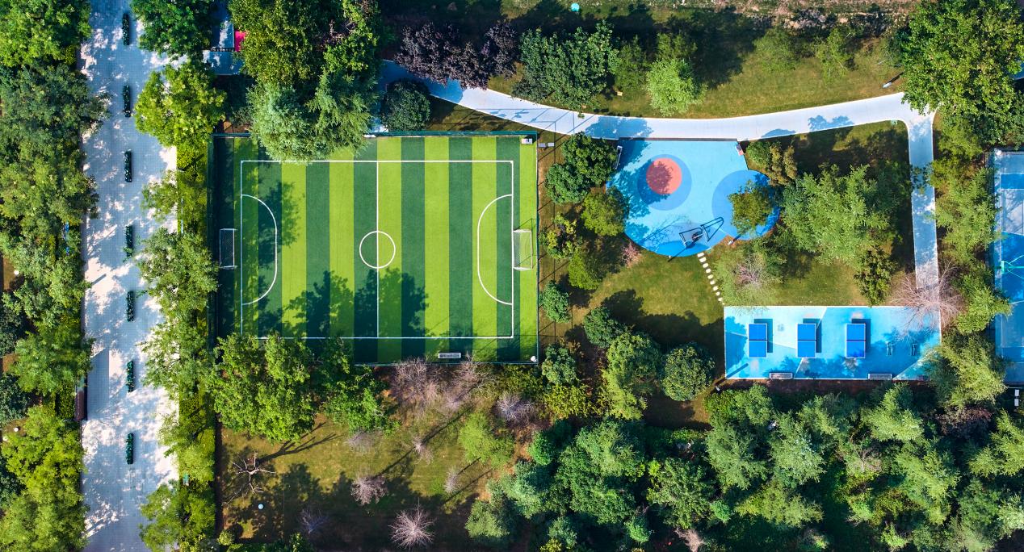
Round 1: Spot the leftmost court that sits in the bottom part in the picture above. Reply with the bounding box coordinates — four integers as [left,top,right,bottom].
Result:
[724,306,941,379]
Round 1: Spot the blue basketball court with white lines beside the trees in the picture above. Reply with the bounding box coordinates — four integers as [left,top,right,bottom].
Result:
[993,151,1024,383]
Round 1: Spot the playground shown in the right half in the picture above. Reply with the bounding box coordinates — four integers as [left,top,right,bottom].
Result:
[607,137,780,257]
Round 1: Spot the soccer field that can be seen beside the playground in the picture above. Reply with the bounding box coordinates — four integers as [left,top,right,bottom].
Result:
[216,134,537,364]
